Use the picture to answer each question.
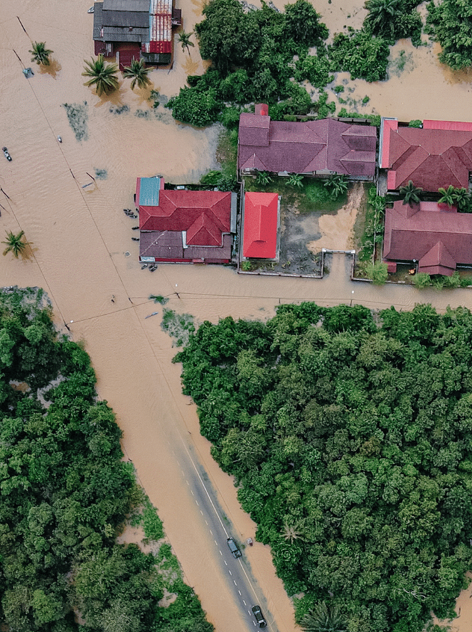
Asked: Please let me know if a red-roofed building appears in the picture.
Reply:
Yes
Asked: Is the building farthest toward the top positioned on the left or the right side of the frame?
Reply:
left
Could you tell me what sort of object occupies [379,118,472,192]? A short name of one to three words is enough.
house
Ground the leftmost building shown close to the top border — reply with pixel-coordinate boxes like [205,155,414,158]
[93,0,181,71]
